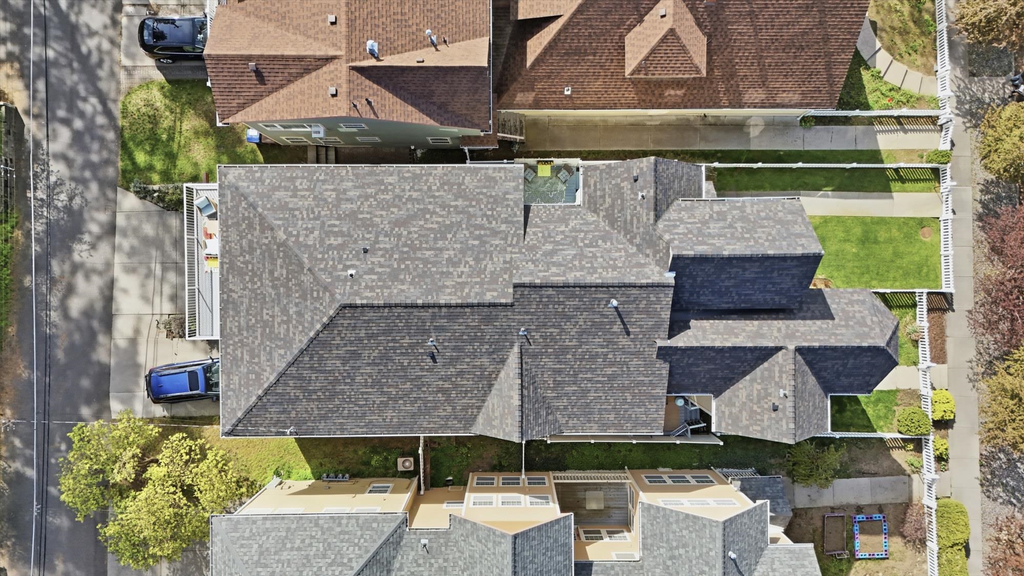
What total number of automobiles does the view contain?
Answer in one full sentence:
There are 2 automobiles in the image.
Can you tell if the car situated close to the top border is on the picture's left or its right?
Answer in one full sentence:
The car situated close to the top border appears in the left half of the scene.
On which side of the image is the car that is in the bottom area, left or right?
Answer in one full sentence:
It is on the left.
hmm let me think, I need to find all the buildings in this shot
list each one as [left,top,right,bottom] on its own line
[498,0,866,115]
[216,157,900,444]
[208,463,818,576]
[202,0,499,153]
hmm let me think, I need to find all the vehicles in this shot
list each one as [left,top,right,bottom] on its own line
[138,15,214,66]
[138,355,216,406]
